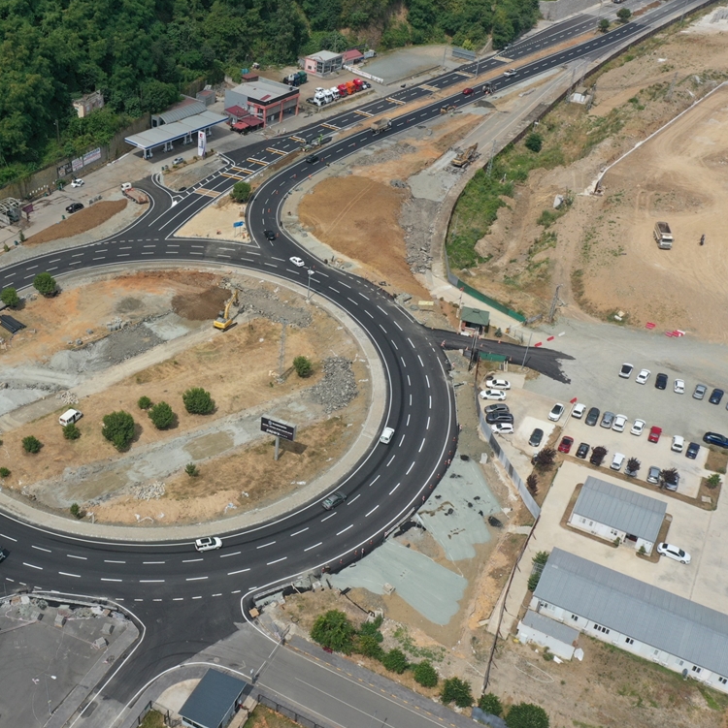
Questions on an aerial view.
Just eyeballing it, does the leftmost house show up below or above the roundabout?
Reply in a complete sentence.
Looking at the scene, the leftmost house is located above the roundabout.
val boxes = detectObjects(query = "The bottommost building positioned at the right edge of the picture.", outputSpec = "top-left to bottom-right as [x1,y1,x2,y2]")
[531,549,728,695]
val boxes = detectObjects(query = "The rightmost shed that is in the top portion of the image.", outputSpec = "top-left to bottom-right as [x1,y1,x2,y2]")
[563,85,593,105]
